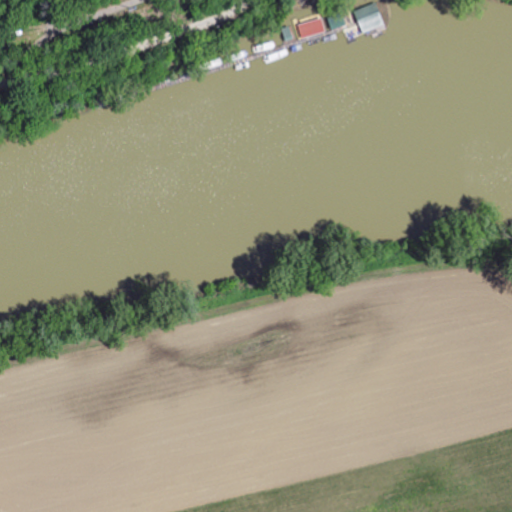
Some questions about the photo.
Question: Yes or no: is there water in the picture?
Yes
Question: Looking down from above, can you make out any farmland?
Yes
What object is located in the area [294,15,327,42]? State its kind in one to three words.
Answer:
house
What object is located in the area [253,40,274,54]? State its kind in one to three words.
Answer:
boat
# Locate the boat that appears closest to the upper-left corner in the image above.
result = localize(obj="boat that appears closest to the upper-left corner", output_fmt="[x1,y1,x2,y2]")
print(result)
[204,60,221,72]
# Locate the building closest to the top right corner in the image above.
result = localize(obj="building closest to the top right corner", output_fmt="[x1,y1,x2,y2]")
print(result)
[353,4,386,39]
